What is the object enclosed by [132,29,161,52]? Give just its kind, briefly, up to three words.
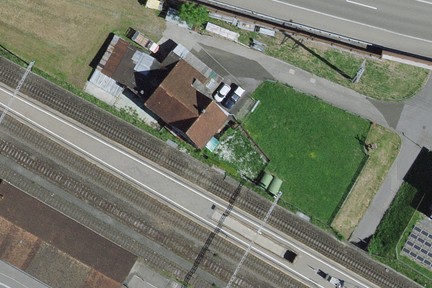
truck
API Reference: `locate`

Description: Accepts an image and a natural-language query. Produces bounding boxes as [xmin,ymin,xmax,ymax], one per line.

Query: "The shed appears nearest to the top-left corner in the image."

[90,34,161,96]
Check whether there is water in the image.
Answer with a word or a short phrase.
No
